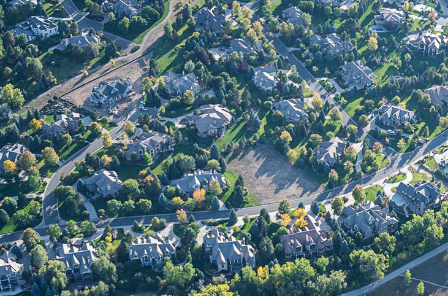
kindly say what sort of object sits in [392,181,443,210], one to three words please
house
